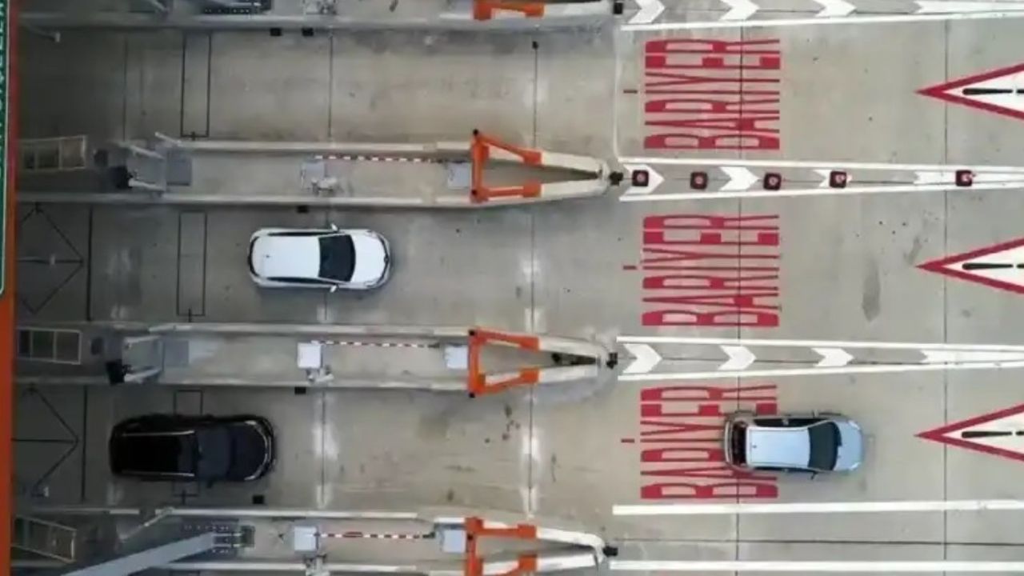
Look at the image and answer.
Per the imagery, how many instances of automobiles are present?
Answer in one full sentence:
The number of automobiles here is 3.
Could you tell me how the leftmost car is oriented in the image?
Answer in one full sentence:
In this picture, the leftmost car lies from side to side.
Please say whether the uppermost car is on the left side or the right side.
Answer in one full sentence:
You can find the uppermost car on the left side of the picture.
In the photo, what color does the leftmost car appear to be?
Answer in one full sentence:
The leftmost car is black.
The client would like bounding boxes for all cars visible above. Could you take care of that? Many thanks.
[725,411,866,479]
[248,224,394,293]
[108,413,275,486]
